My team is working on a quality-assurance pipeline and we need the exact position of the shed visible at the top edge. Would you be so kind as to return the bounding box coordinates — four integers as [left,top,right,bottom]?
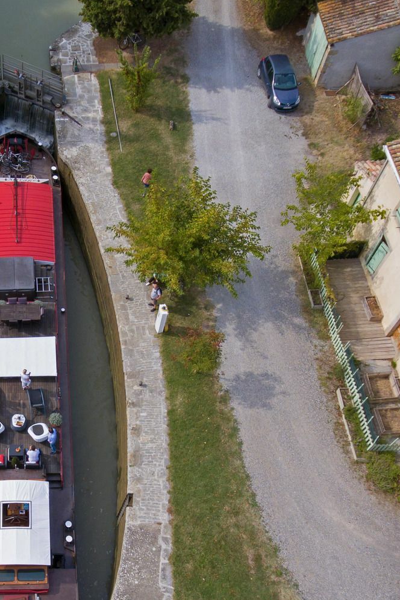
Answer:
[307,0,400,86]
